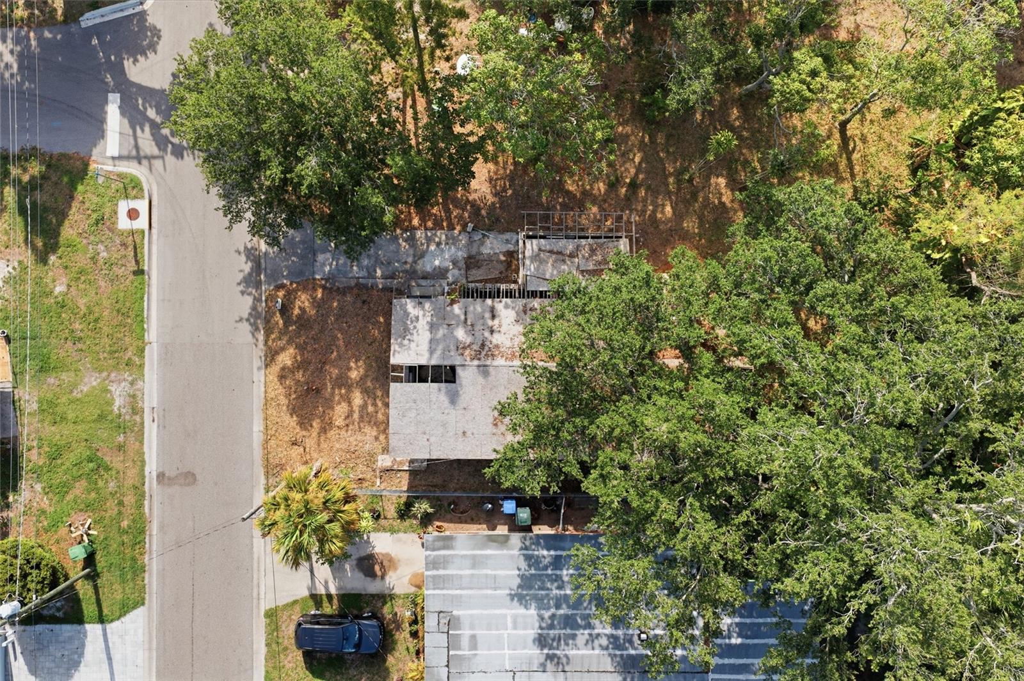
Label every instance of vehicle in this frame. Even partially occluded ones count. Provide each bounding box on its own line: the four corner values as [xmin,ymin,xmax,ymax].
[295,613,386,661]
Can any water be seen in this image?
No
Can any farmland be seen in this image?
No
